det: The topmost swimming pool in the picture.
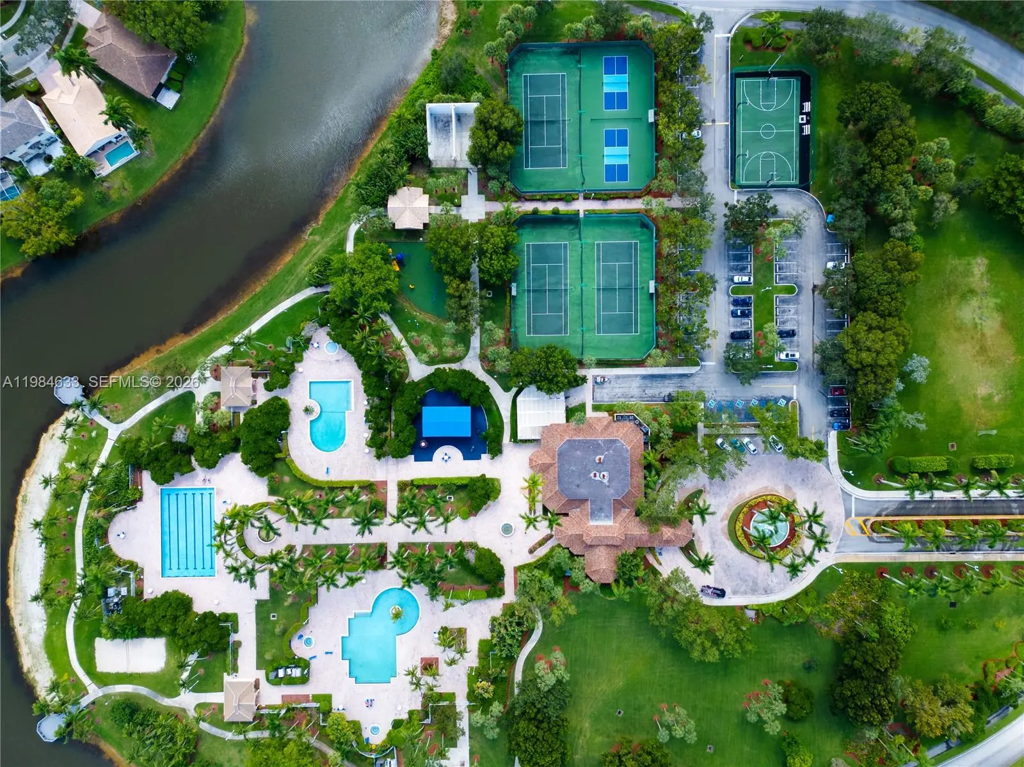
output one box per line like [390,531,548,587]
[103,140,136,167]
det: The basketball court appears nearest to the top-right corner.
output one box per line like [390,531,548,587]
[732,71,811,186]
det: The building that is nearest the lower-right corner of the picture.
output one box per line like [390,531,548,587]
[530,417,693,583]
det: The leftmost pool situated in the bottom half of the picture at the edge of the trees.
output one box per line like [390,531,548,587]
[159,486,217,579]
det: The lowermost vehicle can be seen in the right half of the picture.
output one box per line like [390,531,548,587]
[700,585,725,598]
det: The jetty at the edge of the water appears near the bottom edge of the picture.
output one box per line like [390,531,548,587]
[35,708,75,743]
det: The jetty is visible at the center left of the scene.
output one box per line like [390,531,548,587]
[52,378,91,415]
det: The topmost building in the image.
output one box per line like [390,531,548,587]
[84,12,177,99]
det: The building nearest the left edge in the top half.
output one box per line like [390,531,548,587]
[0,94,60,163]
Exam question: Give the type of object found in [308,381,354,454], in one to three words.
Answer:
swimming pool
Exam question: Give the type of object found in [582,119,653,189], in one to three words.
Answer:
sports court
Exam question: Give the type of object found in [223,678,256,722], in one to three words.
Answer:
building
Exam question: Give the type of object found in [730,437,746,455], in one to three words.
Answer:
car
